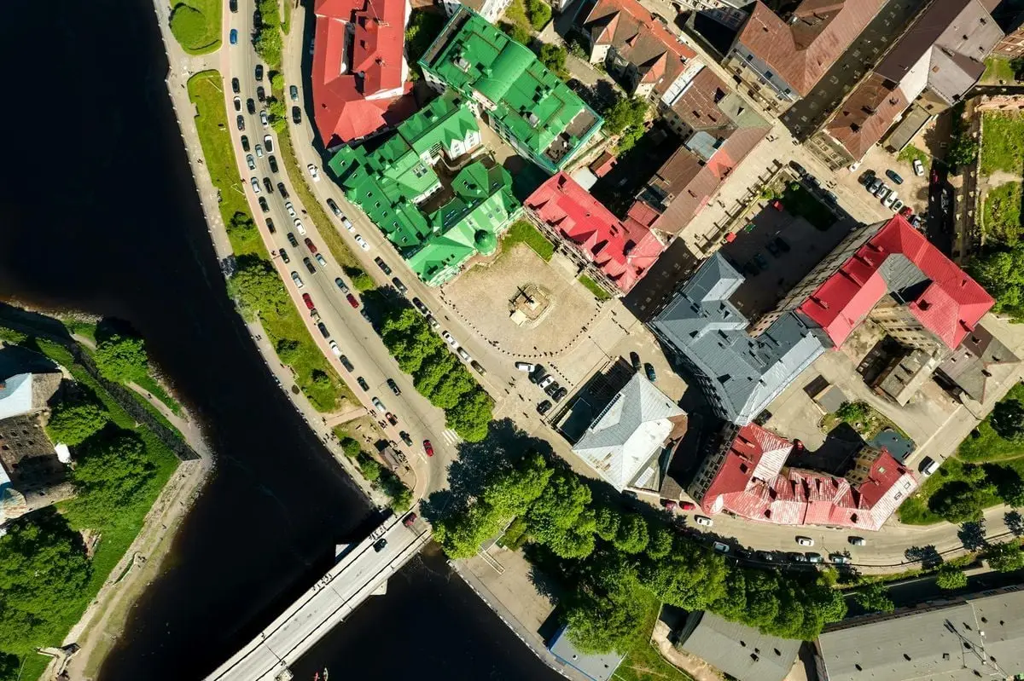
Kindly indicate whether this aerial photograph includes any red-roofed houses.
Yes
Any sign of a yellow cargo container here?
No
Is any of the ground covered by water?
Yes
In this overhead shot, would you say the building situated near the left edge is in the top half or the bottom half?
bottom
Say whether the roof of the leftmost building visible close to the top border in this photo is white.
No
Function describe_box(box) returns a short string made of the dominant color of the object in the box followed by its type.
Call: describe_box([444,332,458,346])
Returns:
white car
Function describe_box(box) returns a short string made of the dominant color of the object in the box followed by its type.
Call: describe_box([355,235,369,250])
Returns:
white car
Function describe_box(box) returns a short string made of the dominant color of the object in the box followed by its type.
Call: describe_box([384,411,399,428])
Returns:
red vehicle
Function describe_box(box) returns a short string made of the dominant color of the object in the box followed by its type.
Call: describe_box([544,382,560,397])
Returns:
black car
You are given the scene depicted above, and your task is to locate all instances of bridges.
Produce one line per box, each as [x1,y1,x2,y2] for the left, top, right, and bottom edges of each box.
[197,504,435,681]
